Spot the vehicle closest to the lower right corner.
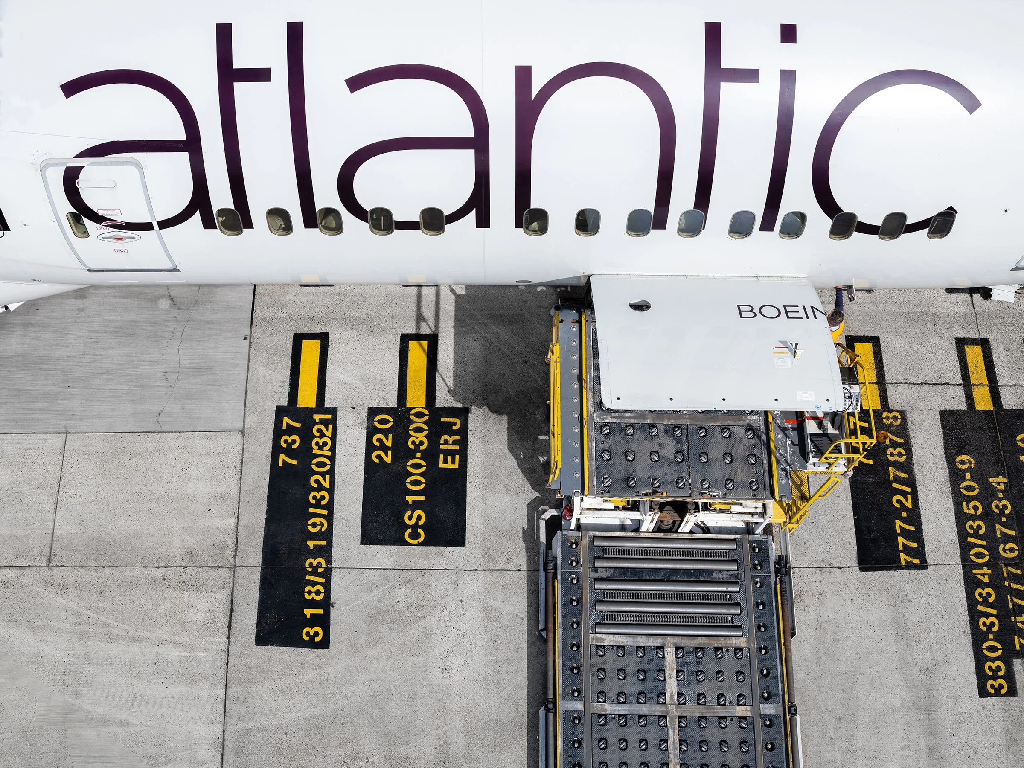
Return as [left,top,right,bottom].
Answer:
[539,288,889,768]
